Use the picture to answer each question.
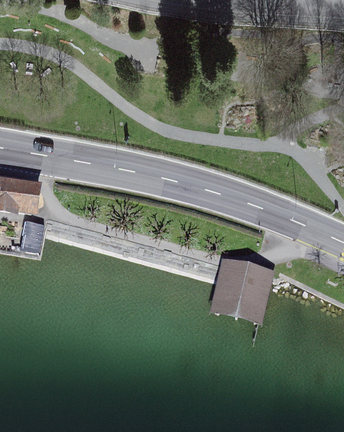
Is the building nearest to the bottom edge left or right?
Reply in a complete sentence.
You can find the building nearest to the bottom edge on the right side of the picture.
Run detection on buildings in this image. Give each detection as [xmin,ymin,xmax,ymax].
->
[208,258,274,328]
[0,176,41,218]
[20,220,44,256]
